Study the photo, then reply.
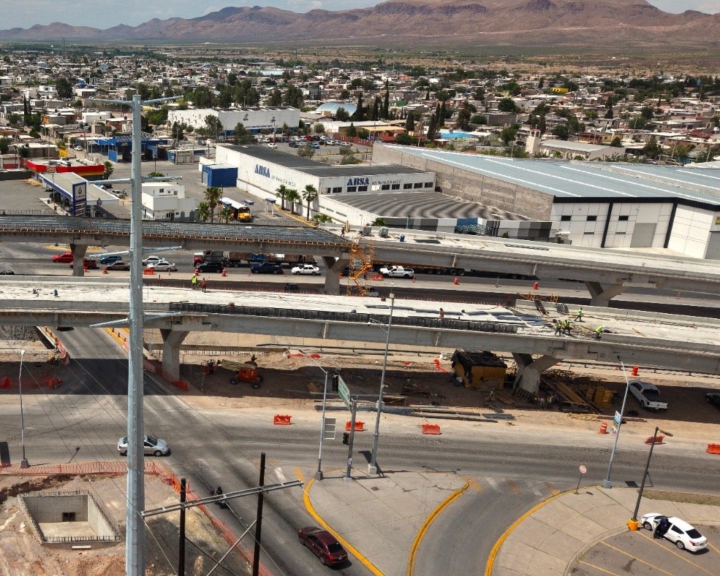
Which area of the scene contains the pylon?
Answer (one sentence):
The pylon appears toward the left of the photo.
